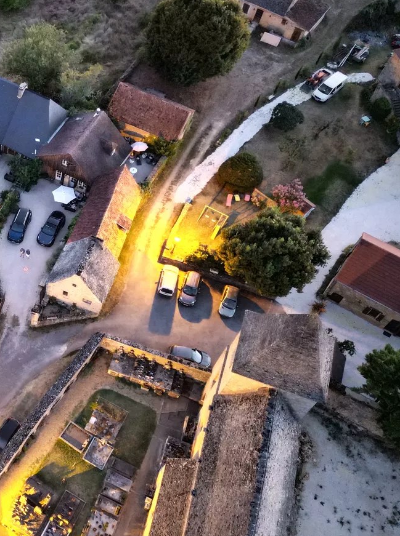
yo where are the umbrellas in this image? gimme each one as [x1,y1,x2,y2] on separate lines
[49,184,78,210]
[130,140,149,162]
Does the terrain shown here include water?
No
